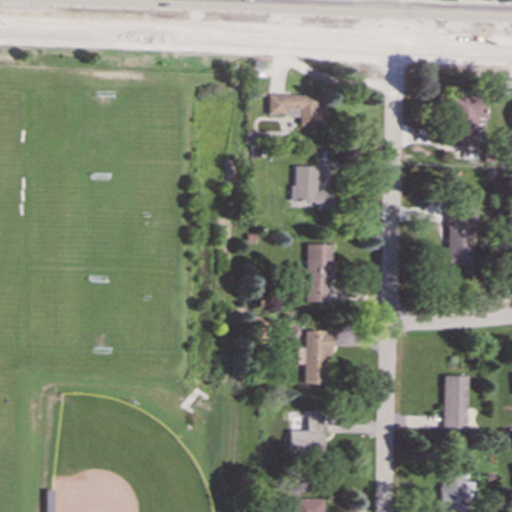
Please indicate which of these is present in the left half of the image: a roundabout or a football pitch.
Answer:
football pitch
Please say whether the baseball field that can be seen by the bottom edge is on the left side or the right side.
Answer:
left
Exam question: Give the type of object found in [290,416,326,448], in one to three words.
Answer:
house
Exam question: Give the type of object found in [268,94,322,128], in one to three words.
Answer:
house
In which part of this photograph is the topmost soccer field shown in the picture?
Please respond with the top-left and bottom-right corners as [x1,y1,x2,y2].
[27,93,182,353]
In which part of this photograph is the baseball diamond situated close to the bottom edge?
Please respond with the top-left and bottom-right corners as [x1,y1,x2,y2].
[52,392,216,512]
